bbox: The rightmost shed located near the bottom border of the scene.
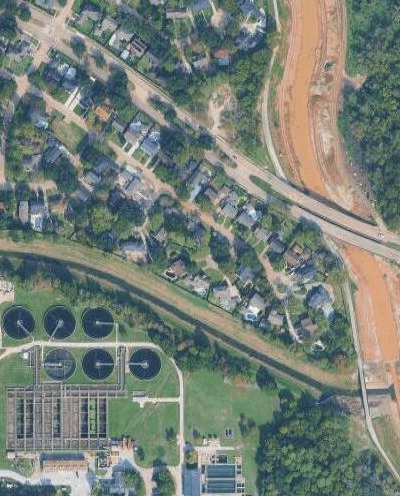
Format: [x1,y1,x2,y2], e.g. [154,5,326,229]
[183,468,200,496]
